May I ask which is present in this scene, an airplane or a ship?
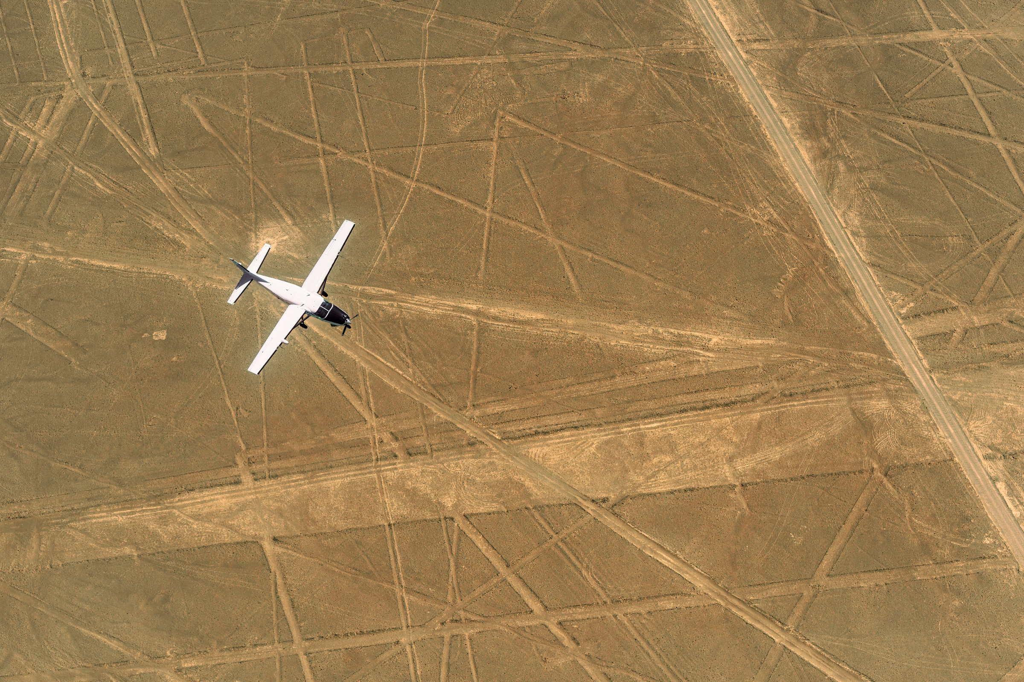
airplane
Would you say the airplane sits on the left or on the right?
left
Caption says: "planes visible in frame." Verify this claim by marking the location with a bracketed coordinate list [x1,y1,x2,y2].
[228,220,358,376]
